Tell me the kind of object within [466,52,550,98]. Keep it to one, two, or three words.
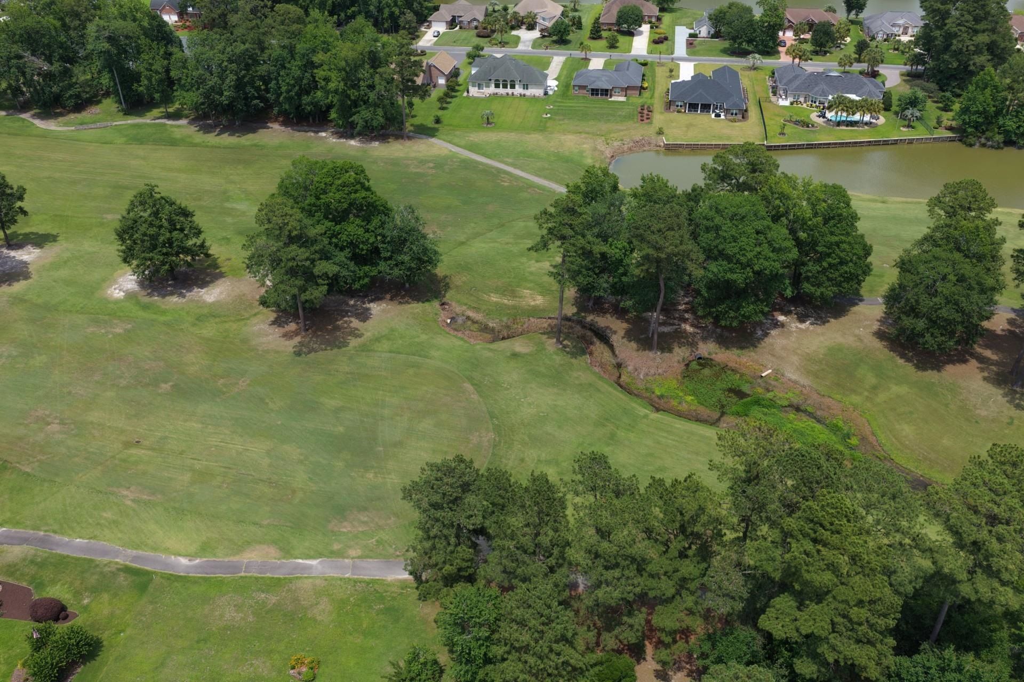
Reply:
house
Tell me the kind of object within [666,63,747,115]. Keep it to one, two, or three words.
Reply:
house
